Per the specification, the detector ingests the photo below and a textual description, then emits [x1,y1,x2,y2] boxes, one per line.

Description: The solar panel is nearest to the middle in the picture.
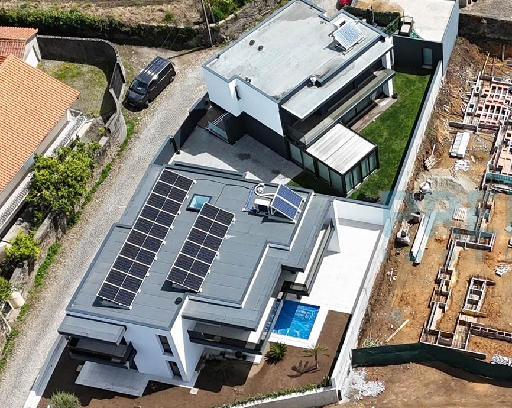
[270,184,305,223]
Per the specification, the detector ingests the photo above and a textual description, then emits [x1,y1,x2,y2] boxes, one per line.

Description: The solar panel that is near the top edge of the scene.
[334,19,365,52]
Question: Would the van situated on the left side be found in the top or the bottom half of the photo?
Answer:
top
